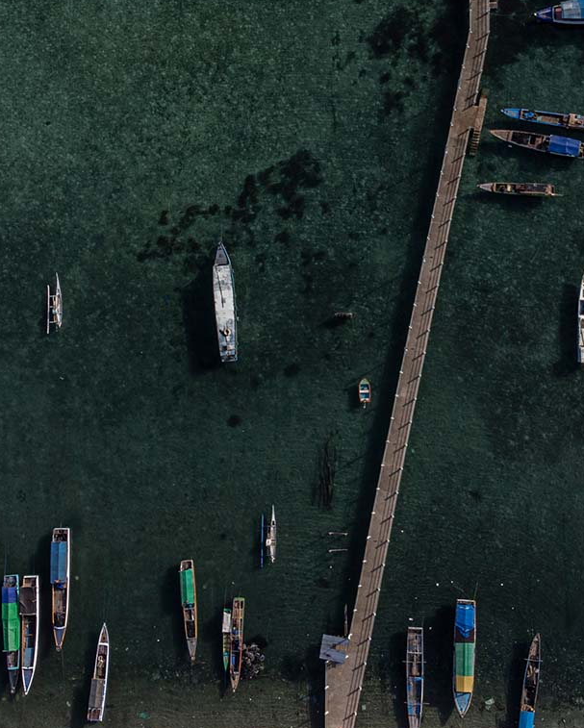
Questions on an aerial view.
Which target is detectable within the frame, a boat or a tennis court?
boat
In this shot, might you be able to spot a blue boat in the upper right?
Yes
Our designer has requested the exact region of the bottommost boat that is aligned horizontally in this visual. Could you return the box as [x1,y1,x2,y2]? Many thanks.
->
[477,183,564,195]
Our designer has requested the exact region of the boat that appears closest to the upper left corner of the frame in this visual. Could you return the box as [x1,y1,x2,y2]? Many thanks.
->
[47,273,62,334]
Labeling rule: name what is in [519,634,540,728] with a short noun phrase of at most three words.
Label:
boat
